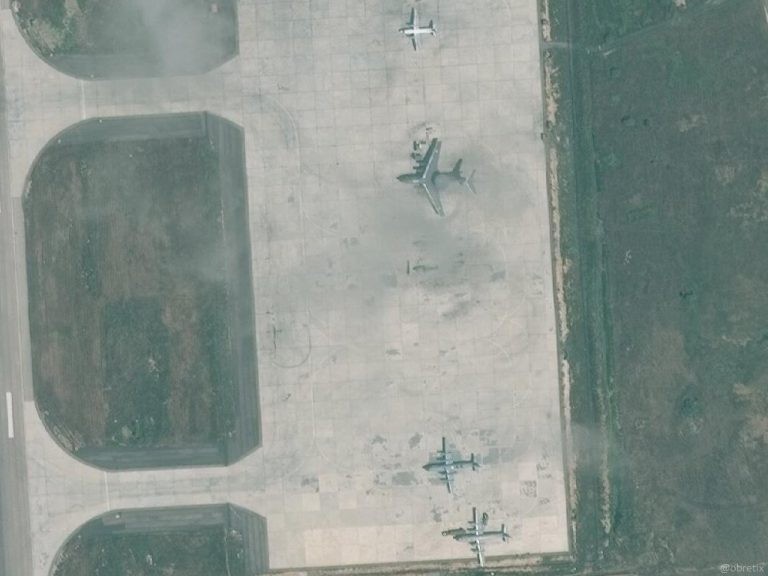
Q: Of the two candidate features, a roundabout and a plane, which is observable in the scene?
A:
plane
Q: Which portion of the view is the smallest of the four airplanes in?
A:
top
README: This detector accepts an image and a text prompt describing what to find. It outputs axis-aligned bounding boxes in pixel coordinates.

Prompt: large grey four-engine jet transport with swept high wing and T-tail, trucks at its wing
[398,140,474,215]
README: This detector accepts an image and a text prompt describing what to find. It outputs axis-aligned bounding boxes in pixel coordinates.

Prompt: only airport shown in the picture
[0,0,568,576]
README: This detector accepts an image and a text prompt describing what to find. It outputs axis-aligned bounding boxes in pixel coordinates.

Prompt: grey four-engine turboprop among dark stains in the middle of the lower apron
[424,438,479,494]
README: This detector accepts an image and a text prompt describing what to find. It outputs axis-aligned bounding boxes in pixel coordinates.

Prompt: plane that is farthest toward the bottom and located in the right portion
[454,508,510,564]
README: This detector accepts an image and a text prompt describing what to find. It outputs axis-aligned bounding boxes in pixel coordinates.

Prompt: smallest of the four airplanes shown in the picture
[400,9,438,52]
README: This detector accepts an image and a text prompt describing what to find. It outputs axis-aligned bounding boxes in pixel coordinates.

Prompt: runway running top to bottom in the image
[0,0,30,576]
